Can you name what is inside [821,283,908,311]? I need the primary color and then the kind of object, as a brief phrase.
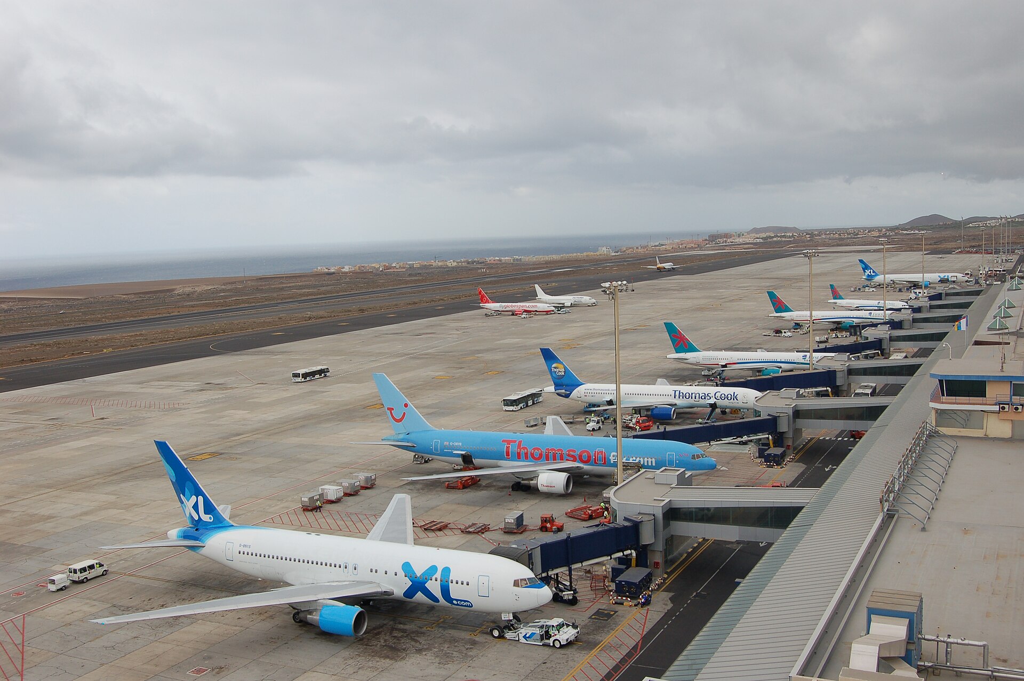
white airplane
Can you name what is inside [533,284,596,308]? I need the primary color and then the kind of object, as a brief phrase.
white airplane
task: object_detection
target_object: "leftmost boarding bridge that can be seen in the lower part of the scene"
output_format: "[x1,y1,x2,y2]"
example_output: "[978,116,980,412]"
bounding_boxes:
[498,514,658,608]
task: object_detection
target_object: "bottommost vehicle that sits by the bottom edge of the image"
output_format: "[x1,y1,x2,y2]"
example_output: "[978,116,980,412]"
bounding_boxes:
[477,614,576,650]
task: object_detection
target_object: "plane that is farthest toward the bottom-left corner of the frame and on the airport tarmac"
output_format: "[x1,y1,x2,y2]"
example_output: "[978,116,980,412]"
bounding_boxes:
[81,440,554,636]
